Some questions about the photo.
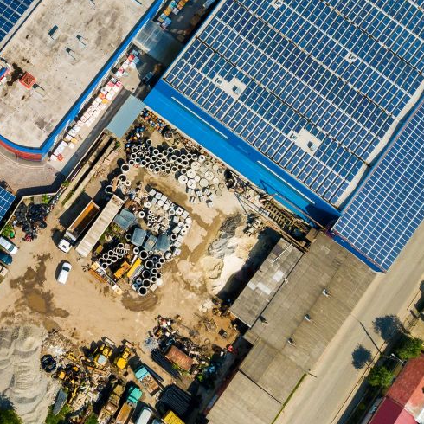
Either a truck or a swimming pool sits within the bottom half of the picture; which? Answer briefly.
truck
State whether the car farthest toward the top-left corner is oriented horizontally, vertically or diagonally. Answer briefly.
diagonally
